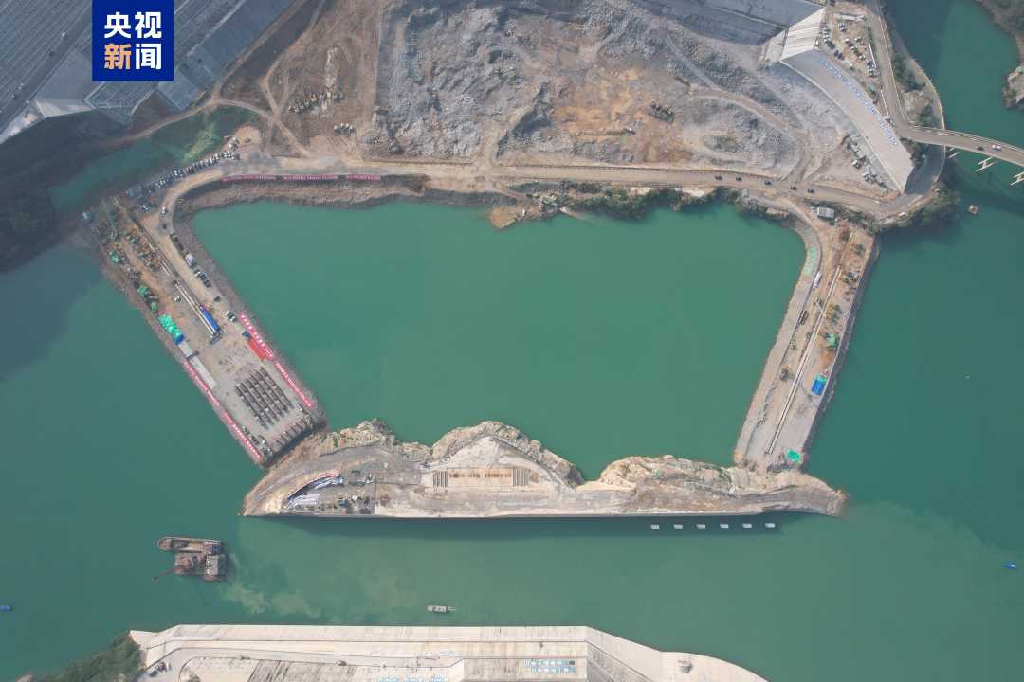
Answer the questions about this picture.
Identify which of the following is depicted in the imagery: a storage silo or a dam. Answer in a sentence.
The image shows a dam.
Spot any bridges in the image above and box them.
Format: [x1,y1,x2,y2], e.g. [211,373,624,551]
[910,124,1024,188]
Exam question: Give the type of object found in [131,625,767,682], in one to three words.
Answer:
dam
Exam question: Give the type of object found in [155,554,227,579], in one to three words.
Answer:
ship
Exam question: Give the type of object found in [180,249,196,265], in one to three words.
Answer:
vehicle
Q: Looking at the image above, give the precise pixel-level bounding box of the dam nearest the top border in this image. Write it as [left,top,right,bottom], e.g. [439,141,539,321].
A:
[627,0,797,43]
